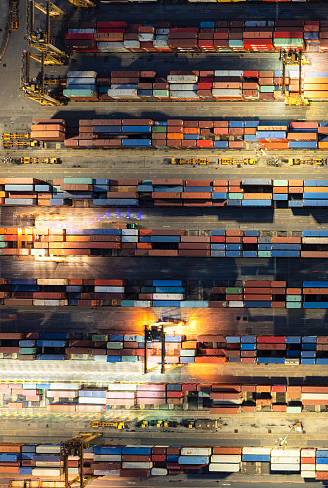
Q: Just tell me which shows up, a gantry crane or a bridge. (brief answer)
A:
gantry crane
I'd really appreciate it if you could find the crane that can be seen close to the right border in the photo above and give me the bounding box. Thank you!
[279,46,314,105]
